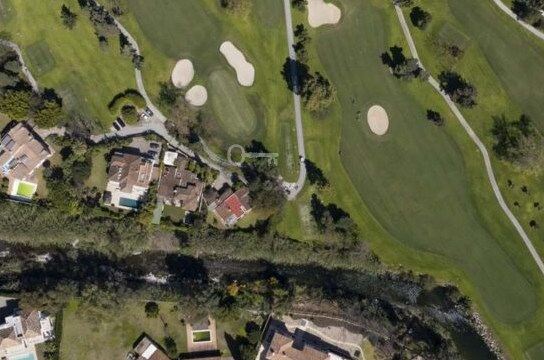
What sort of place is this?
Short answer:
golf course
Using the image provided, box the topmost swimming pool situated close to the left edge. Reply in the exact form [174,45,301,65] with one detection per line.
[15,181,36,198]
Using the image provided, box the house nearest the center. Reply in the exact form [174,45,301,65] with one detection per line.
[206,184,251,227]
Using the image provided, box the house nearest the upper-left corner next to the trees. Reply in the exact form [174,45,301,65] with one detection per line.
[0,122,52,199]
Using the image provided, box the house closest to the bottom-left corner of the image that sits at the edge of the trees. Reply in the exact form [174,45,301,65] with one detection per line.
[0,308,57,360]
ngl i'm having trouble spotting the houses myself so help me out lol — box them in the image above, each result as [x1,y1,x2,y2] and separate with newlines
[126,334,236,360]
[263,316,346,360]
[0,308,57,360]
[103,152,156,210]
[152,151,202,213]
[206,184,251,227]
[0,122,52,199]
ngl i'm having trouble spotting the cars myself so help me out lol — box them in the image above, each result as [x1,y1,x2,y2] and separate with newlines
[144,107,153,116]
[147,150,157,155]
[139,111,148,120]
[116,117,124,127]
[112,121,120,131]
